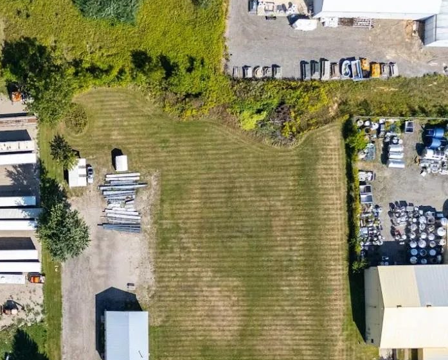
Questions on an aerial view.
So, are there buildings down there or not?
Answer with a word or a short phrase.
Yes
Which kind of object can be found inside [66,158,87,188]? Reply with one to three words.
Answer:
building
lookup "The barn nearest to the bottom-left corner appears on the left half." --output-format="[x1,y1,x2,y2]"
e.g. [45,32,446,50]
[100,310,149,360]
